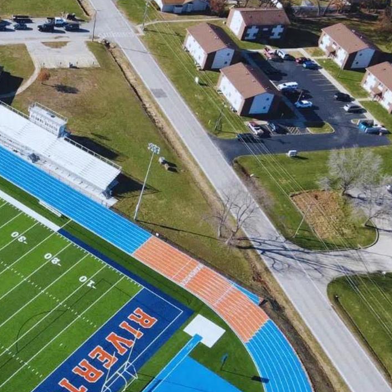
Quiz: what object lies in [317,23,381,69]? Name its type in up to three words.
building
